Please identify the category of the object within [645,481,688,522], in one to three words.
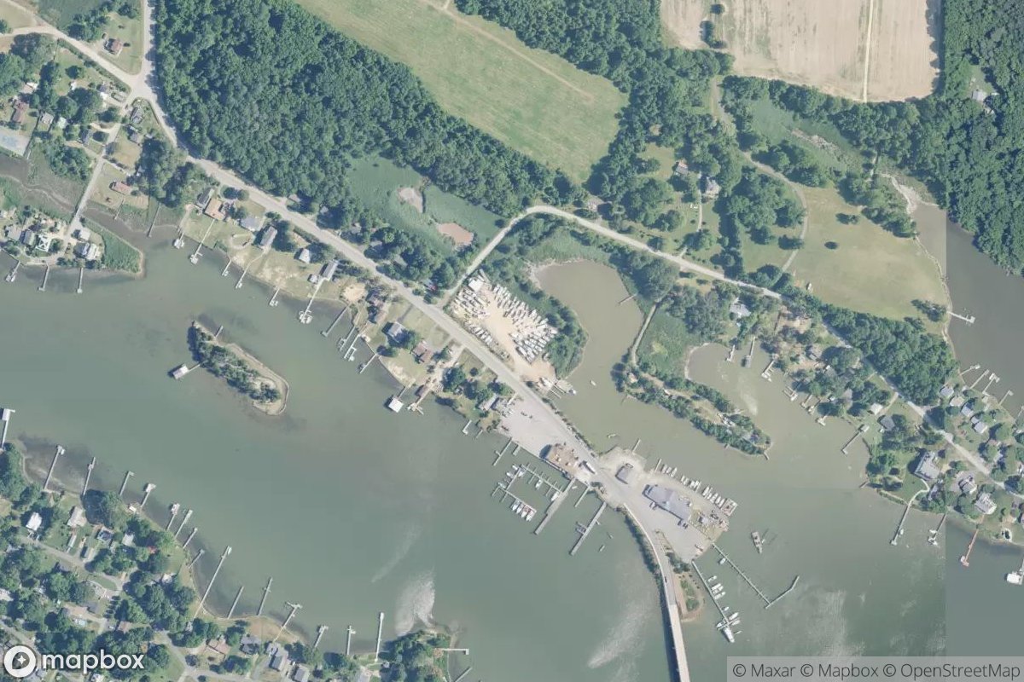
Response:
building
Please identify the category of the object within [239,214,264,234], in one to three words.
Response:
house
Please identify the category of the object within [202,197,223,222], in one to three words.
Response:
house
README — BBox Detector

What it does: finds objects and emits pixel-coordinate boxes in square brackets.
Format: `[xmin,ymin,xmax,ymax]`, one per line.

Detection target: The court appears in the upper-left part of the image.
[0,130,29,156]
